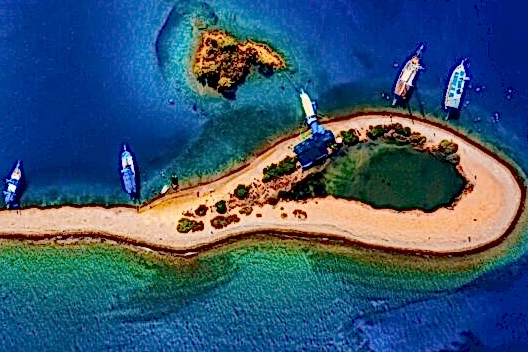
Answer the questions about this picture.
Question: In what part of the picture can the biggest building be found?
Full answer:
The biggest building sits in the center section of the image.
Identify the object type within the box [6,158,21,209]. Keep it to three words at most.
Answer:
boat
